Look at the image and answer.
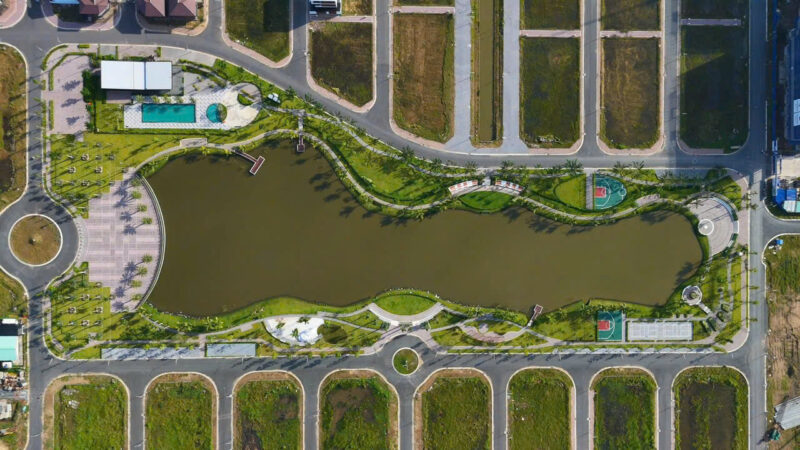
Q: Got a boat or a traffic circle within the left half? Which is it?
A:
traffic circle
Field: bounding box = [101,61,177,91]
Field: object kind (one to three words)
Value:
building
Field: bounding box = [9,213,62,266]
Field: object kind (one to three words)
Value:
roundabout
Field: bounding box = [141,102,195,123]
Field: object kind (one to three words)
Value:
swimming pool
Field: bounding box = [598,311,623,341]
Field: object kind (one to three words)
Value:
basketball court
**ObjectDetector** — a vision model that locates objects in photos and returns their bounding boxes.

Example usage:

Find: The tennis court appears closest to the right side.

[628,322,693,341]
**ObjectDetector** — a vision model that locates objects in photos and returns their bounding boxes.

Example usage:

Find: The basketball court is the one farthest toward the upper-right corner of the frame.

[595,174,627,209]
